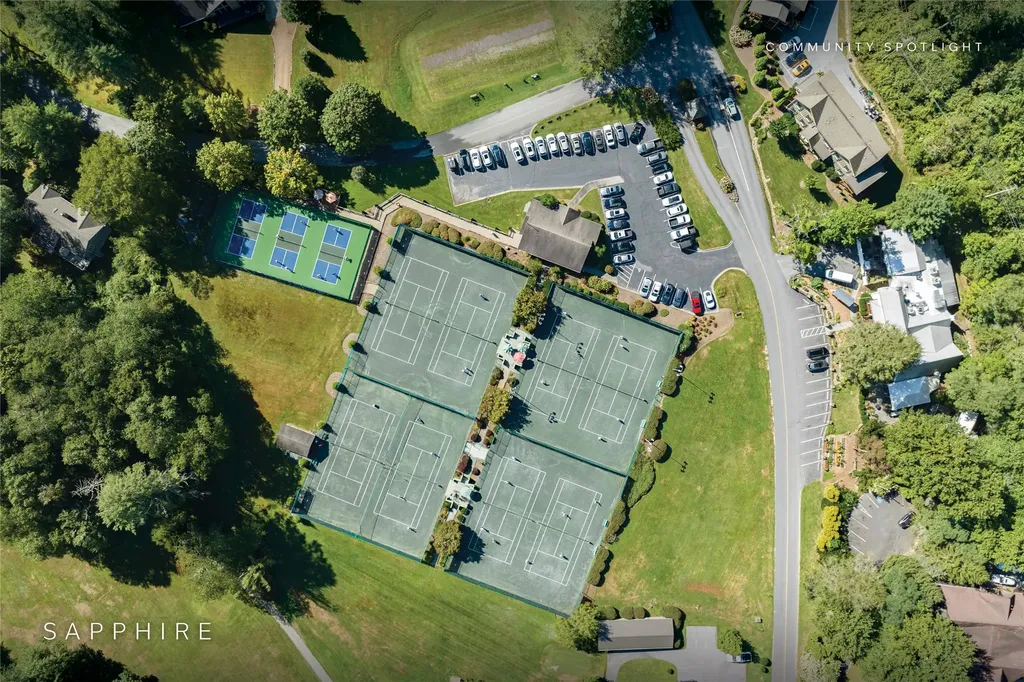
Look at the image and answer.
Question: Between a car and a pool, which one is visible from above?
car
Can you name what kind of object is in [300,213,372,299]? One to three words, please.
sports court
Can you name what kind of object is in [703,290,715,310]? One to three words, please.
vehicle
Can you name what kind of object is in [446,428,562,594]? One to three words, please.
tennis court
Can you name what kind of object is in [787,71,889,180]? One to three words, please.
house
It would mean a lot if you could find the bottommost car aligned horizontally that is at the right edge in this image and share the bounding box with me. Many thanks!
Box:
[991,573,1013,585]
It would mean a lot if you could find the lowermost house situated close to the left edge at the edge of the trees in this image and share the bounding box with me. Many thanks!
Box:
[18,184,110,257]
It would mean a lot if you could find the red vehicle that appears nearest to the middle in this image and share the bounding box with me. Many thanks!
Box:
[690,291,702,315]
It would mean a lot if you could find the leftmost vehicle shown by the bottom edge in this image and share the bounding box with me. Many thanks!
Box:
[724,650,749,662]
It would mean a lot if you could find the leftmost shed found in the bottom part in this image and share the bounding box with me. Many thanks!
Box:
[276,424,317,457]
